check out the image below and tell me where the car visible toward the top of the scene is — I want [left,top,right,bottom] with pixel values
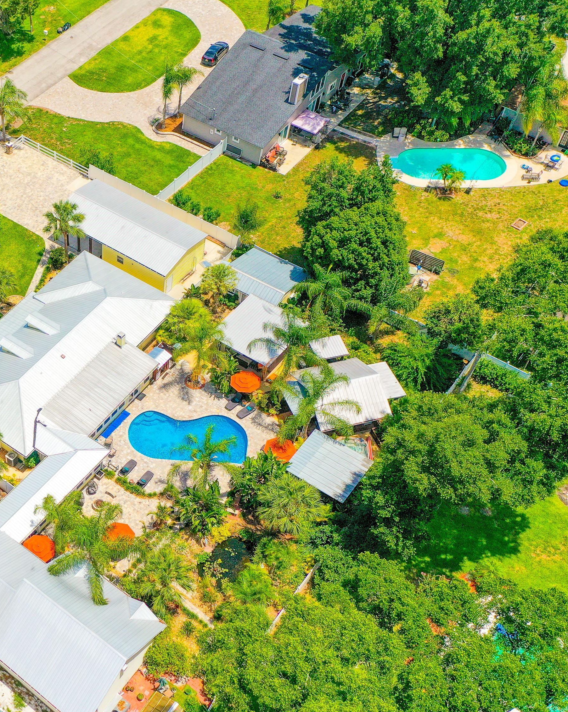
[203,41,229,66]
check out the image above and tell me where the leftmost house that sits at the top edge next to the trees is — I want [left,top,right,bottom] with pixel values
[179,11,364,165]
